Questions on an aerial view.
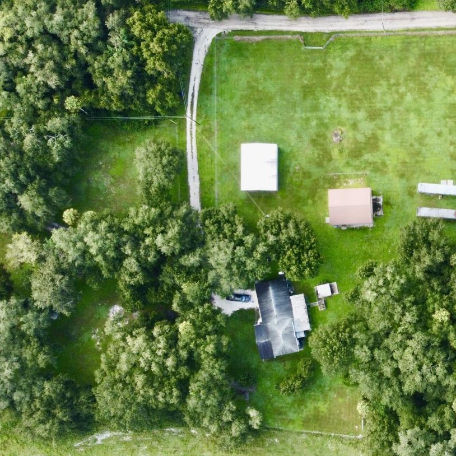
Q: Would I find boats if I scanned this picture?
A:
No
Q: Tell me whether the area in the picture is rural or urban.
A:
rural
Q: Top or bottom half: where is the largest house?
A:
bottom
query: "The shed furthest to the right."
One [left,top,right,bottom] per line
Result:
[329,188,376,229]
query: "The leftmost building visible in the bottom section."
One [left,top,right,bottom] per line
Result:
[255,278,310,360]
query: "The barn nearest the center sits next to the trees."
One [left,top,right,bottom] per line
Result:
[241,143,282,192]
